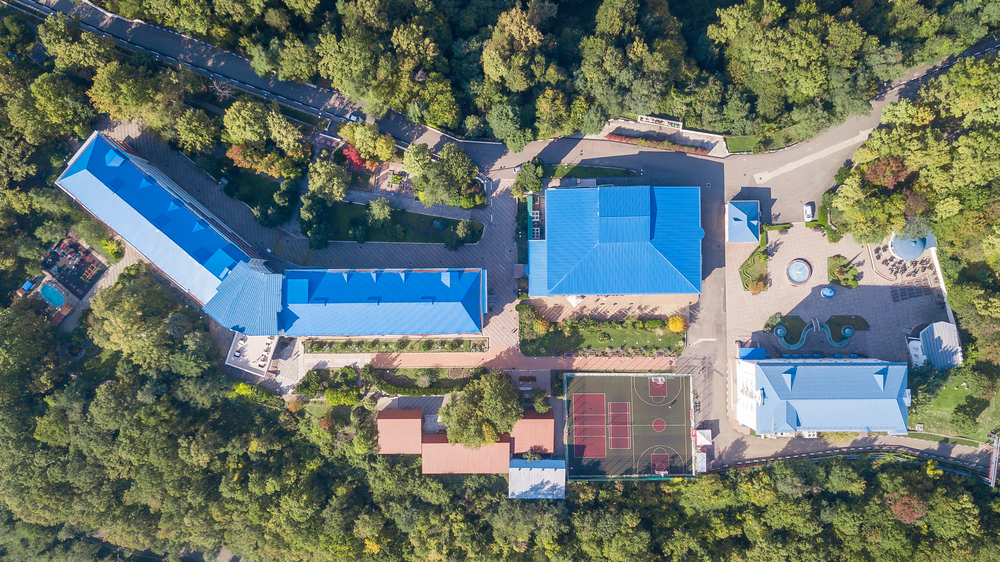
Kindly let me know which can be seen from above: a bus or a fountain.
fountain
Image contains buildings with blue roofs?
Yes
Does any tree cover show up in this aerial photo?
Yes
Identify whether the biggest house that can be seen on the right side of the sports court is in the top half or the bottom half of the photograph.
bottom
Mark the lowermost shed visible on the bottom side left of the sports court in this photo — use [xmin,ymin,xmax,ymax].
[509,457,565,499]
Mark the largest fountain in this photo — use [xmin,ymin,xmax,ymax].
[786,257,813,283]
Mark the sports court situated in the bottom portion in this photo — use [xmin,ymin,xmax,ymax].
[565,375,692,475]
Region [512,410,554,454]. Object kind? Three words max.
house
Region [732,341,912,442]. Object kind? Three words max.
house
